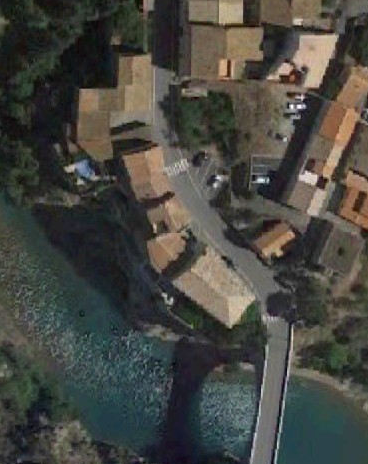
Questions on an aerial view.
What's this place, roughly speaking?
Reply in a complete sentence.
This image shows a residential area.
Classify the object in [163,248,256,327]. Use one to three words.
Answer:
house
